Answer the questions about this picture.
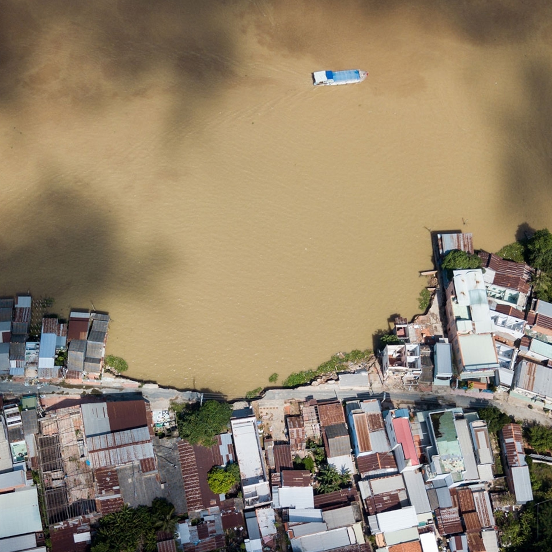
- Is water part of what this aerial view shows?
Yes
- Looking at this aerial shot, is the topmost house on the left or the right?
right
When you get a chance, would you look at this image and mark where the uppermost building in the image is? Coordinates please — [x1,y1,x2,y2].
[433,233,474,256]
